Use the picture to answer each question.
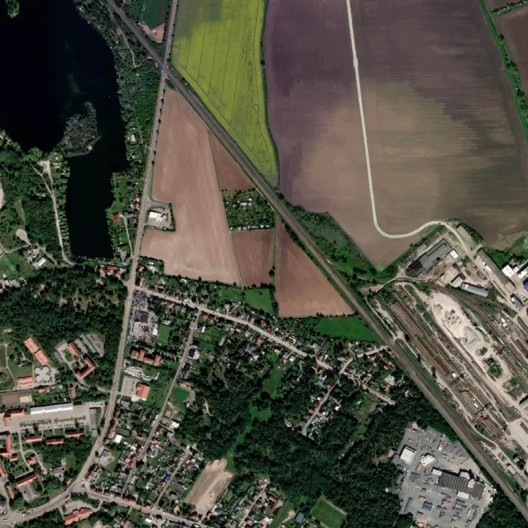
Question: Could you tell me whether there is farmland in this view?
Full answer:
Yes, there's farmland in this view.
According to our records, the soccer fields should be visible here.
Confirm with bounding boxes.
[311,497,347,528]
